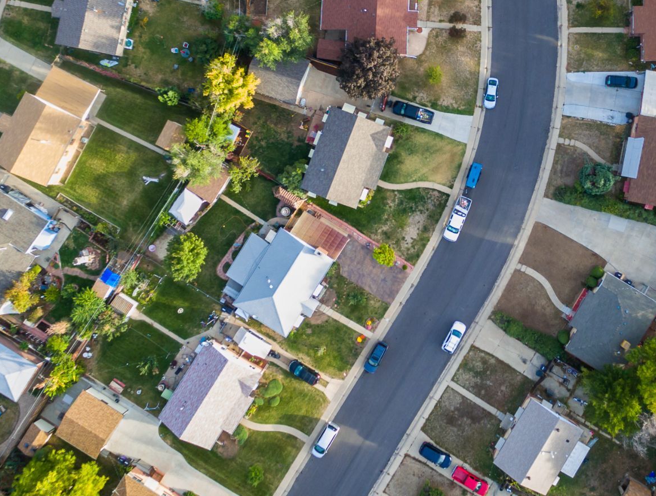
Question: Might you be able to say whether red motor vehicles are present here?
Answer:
Yes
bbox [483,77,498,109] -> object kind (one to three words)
car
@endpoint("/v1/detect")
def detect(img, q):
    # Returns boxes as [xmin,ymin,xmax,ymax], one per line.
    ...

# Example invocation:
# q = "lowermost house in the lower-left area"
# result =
[104,457,182,496]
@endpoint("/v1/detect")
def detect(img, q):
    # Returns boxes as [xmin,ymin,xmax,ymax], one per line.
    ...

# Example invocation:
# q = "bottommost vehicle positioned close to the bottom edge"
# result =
[450,465,491,495]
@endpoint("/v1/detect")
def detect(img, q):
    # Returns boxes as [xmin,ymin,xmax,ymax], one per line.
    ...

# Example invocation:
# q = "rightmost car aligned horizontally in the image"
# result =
[605,74,638,90]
